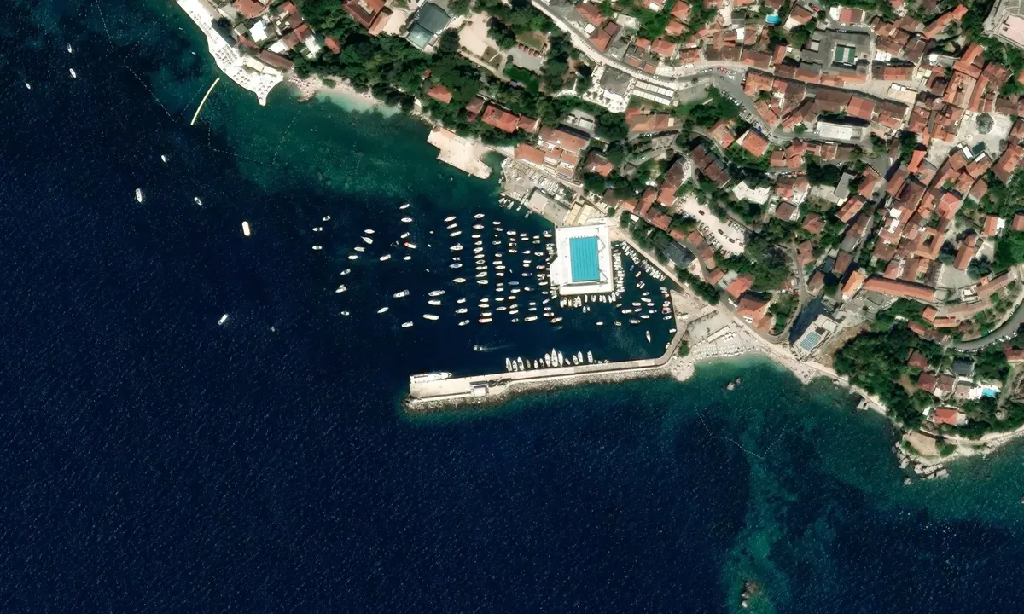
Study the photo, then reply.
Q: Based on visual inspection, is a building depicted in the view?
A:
Yes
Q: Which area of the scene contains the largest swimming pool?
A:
center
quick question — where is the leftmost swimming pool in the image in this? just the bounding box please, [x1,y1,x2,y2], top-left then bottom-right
[550,223,614,295]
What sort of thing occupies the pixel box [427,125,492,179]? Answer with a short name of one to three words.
pier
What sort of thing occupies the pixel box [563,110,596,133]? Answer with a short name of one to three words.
building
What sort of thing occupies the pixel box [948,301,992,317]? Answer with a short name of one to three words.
house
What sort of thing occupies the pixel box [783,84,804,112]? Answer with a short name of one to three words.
house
